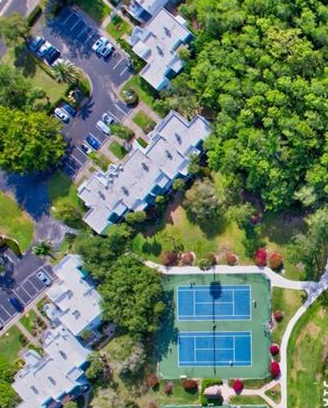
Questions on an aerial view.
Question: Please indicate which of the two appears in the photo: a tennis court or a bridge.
tennis court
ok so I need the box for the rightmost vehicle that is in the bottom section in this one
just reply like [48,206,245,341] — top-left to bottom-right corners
[37,270,52,285]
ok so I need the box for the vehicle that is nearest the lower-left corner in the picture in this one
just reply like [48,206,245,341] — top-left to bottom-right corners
[9,298,23,313]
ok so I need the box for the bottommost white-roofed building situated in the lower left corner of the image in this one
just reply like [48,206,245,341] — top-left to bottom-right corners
[11,325,101,408]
